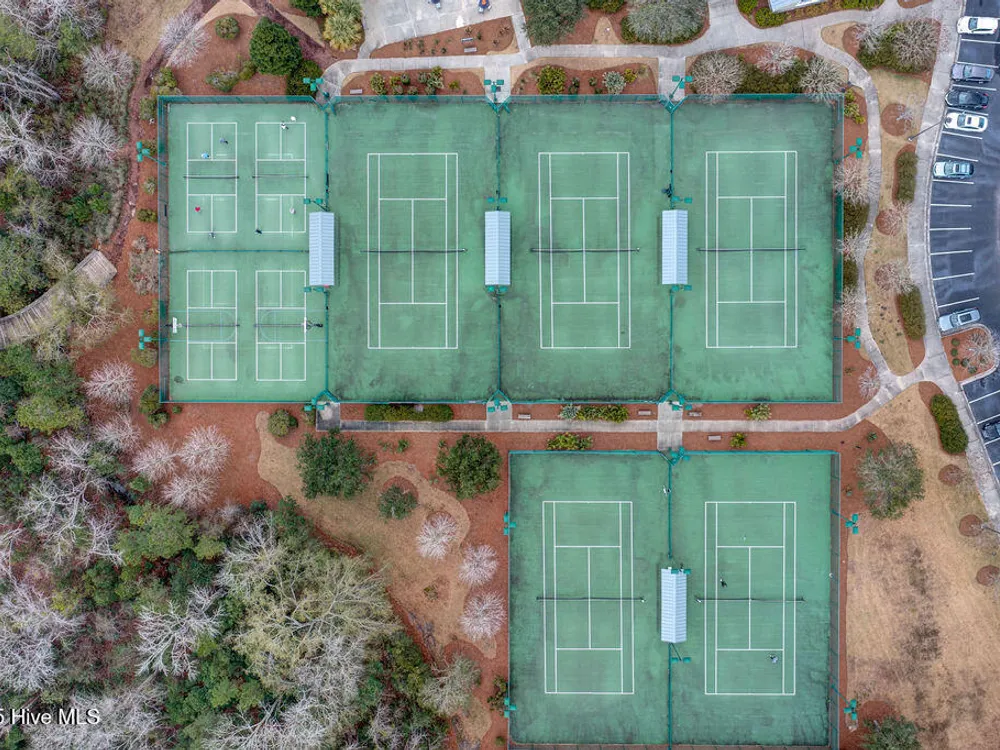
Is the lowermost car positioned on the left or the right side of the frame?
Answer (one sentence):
The lowermost car is on the right side of the image.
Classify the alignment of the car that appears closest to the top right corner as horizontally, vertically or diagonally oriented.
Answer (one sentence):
The car that appears closest to the top right corner is oriented horizontally.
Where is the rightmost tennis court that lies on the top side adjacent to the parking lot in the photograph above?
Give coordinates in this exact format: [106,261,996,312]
[672,103,833,402]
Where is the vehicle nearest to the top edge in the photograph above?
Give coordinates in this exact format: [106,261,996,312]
[953,15,998,38]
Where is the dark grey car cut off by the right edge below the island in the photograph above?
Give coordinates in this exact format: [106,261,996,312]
[978,415,1000,438]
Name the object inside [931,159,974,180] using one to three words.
car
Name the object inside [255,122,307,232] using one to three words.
sports court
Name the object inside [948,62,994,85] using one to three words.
car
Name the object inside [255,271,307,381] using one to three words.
sports court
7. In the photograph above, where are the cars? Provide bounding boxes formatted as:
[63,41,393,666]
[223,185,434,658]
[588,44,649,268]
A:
[942,89,988,112]
[936,308,981,332]
[953,15,998,38]
[941,111,986,134]
[948,62,994,85]
[978,415,1000,438]
[931,159,974,180]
